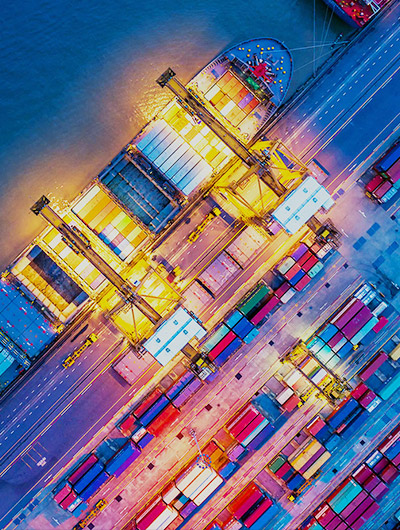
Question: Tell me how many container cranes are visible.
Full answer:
There are 2 container cranes in the image.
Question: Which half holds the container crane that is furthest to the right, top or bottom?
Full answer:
It is in the top half that the container crane that is furthest to the right appears.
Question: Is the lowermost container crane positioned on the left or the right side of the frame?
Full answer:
You can find the lowermost container crane on the left side of the picture.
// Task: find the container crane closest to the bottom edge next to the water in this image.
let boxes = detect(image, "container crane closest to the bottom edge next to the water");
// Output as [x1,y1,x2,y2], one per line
[29,195,220,372]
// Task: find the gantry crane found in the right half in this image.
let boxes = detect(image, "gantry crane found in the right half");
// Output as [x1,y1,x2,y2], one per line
[156,67,347,243]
